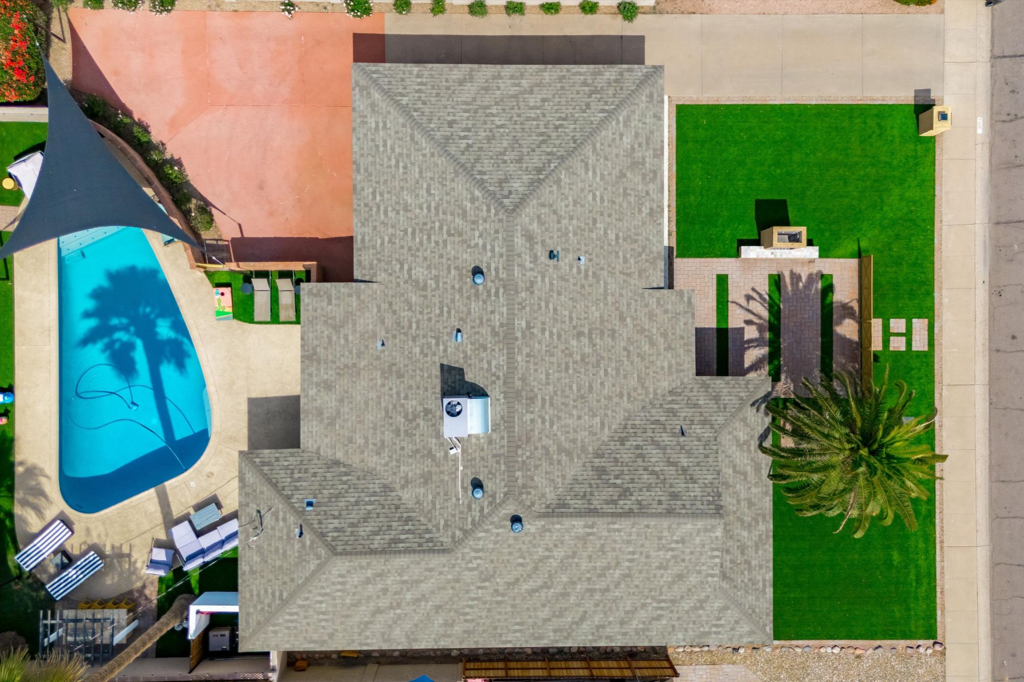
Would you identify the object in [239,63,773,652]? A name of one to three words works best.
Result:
house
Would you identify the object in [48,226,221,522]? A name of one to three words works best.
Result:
swimming pool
